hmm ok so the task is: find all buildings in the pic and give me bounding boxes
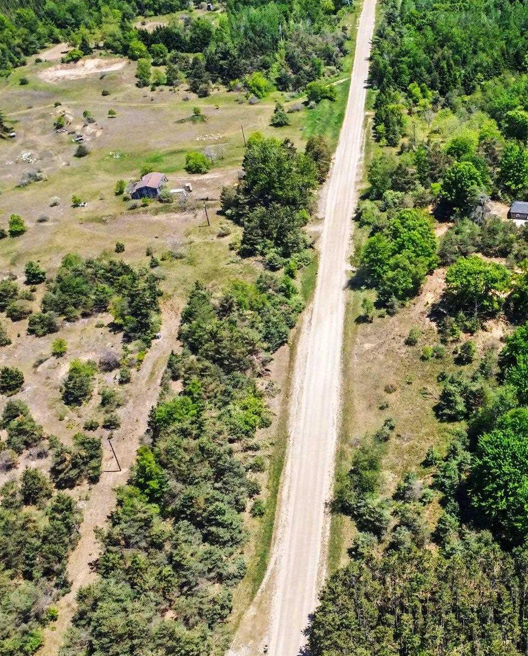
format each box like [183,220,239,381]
[510,202,528,221]
[126,174,167,203]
